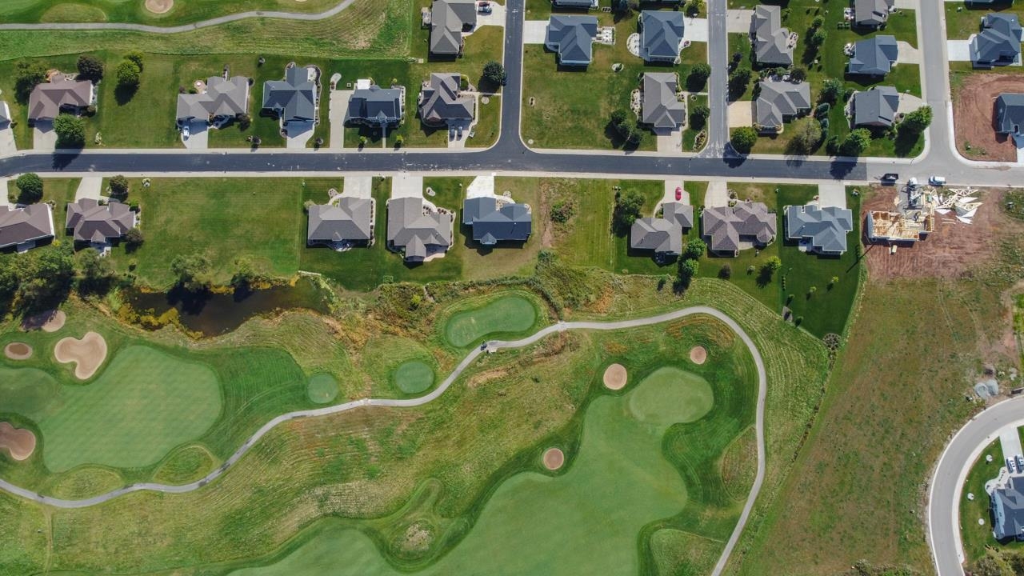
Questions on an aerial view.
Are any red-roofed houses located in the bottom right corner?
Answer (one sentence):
No, in the bottom right corner there is no red-roofed house.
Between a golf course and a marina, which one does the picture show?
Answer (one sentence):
The picture captures a golf course.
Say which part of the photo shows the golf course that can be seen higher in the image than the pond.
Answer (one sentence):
Look in the top left portion of the view to spot the golf course that can be seen higher in the image than the pond.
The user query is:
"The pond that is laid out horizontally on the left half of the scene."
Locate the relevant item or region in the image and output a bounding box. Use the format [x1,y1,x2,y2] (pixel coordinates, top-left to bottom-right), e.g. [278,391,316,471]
[123,279,336,337]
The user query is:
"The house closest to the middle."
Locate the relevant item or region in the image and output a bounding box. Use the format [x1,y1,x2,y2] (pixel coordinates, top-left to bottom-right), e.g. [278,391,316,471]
[463,196,532,244]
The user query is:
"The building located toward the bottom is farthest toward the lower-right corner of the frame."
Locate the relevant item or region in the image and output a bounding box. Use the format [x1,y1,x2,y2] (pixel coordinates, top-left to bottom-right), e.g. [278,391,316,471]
[991,474,1024,542]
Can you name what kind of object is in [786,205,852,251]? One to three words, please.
house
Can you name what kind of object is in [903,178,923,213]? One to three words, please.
vehicle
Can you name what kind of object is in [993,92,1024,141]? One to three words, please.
house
